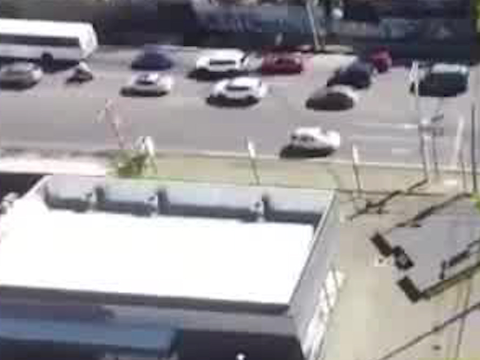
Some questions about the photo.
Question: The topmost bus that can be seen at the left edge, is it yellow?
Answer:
No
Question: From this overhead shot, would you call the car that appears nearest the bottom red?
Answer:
No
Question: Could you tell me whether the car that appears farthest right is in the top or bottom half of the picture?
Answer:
top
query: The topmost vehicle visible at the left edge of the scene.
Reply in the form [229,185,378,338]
[0,18,98,66]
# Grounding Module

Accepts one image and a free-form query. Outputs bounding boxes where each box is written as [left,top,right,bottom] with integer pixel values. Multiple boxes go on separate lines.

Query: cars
[322,56,377,85]
[0,59,51,89]
[209,78,269,104]
[117,71,178,97]
[191,47,252,76]
[281,126,344,156]
[413,64,473,94]
[256,51,311,76]
[303,84,362,111]
[124,47,183,71]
